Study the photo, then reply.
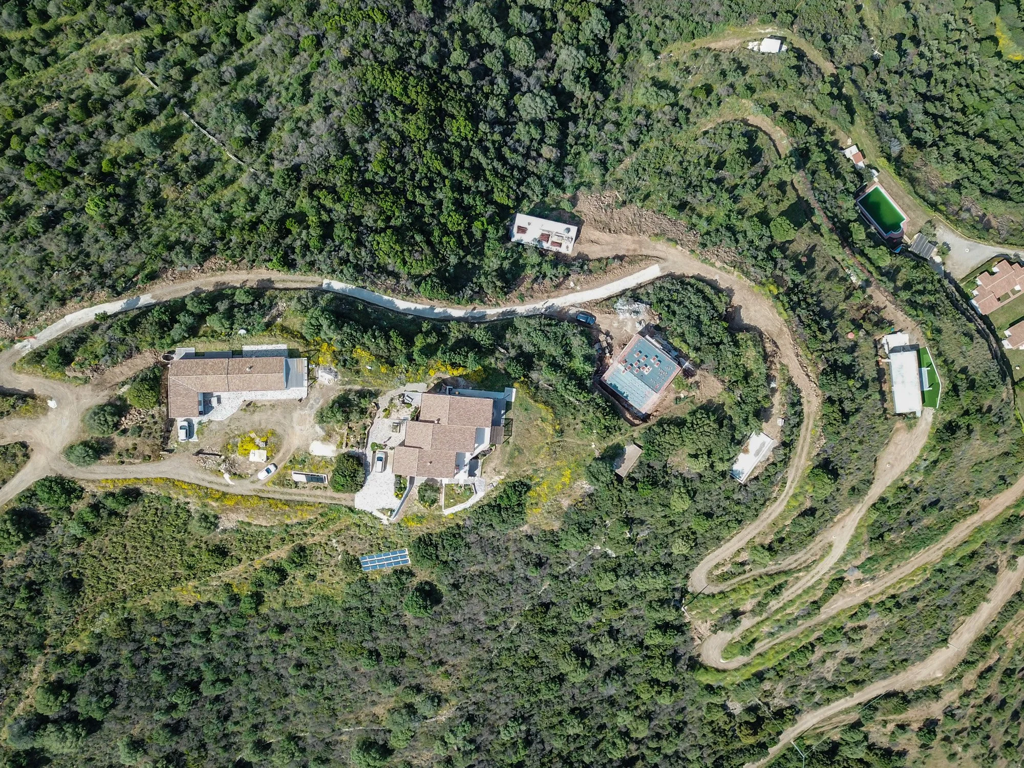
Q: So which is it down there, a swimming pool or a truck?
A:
swimming pool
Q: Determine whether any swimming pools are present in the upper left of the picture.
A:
No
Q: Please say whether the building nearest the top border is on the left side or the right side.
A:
right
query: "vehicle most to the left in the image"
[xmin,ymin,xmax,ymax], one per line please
[175,421,188,442]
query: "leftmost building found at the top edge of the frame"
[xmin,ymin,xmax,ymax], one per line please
[756,38,781,59]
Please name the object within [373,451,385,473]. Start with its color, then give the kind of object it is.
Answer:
white vehicle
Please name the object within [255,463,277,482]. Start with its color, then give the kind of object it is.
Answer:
white car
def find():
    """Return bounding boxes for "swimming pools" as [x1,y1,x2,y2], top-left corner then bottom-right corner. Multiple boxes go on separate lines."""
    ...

[853,180,911,243]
